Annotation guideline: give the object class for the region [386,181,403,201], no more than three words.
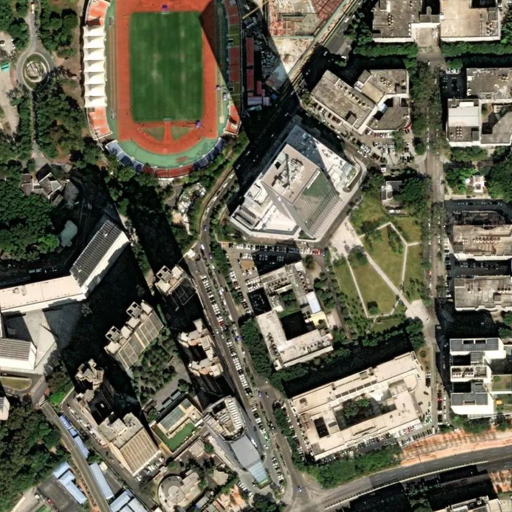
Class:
house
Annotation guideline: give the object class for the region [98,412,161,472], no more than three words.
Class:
building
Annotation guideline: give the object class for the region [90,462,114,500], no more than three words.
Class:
shed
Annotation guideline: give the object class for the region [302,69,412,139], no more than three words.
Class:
building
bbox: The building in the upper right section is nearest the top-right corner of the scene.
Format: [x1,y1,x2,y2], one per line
[440,0,502,42]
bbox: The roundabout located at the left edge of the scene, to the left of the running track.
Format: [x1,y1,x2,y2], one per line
[17,48,54,94]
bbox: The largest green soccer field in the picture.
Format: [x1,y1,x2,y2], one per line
[130,12,203,122]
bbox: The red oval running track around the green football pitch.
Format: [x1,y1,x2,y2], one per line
[106,0,228,165]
